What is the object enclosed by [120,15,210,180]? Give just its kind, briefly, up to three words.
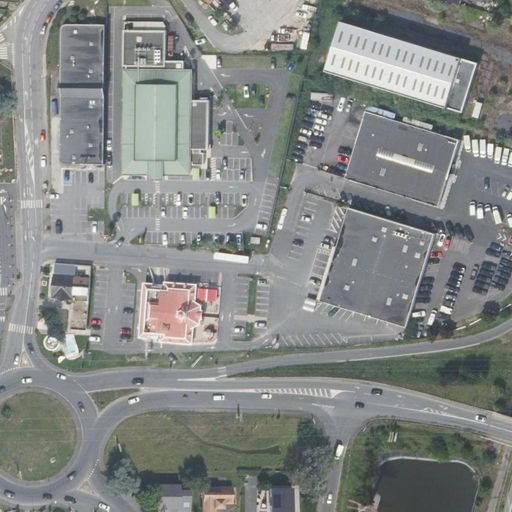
building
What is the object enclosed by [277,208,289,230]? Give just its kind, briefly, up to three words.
vehicle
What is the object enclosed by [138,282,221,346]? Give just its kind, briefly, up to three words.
building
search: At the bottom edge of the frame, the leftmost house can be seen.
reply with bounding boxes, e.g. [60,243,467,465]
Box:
[159,483,194,512]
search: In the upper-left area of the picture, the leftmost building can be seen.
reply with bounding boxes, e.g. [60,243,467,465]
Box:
[58,24,105,168]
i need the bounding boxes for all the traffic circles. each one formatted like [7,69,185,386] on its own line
[0,368,100,504]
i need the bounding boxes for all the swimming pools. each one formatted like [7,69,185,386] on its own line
[66,334,78,360]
